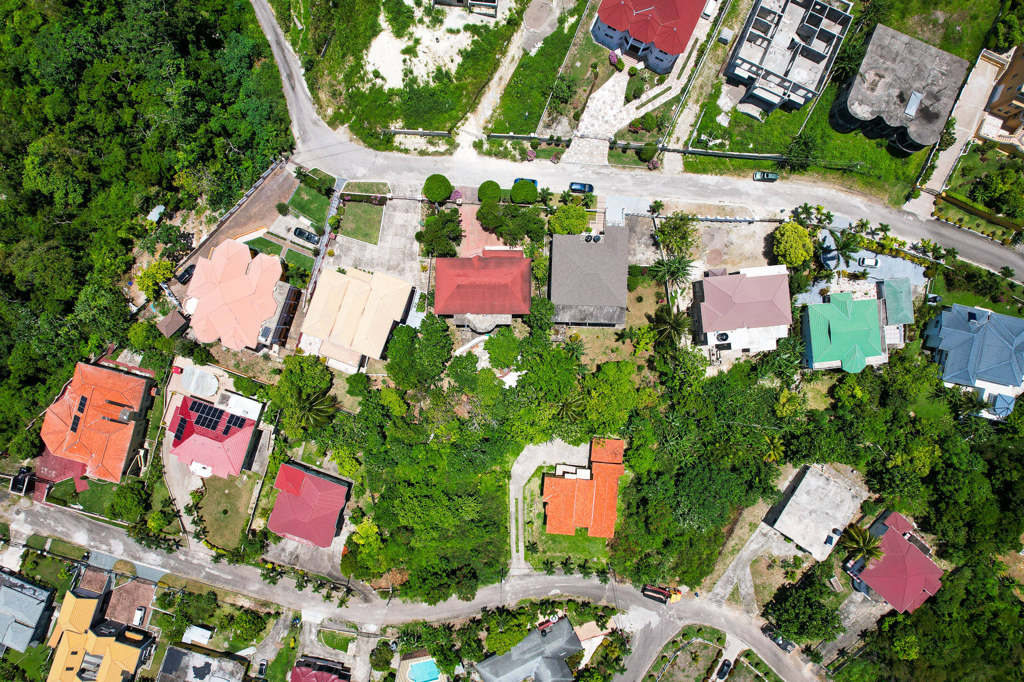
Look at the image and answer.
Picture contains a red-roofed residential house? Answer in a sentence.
Yes, a red-roofed residential house appears in the view.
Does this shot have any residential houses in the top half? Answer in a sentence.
Yes, you'll find a residential house in the top half.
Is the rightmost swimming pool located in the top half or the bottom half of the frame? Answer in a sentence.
The bottom half of the photo is where the rightmost swimming pool is.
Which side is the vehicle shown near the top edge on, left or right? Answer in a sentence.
It is on the right.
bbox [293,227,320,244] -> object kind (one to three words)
car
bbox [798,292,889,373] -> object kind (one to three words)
building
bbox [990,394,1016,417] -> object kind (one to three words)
gazebo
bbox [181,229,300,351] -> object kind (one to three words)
house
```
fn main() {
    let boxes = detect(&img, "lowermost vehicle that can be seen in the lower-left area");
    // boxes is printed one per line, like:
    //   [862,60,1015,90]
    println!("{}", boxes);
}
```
[257,656,271,680]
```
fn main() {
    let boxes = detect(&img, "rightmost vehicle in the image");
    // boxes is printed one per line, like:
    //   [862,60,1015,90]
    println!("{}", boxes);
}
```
[857,257,881,269]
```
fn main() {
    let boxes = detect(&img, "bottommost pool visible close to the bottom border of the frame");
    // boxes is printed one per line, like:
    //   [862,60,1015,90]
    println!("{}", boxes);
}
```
[402,659,441,682]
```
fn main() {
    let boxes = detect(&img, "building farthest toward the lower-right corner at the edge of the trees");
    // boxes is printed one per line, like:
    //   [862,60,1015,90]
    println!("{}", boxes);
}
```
[843,508,944,615]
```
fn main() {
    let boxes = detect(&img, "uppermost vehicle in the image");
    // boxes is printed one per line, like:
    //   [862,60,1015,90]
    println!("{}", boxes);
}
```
[698,0,718,24]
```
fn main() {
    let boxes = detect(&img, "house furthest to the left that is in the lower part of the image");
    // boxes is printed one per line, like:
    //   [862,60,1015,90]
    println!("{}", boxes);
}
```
[0,565,64,653]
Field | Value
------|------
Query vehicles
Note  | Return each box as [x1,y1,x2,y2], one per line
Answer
[857,257,881,269]
[641,580,684,607]
[761,620,792,656]
[131,603,149,629]
[752,170,779,183]
[569,182,594,195]
[257,656,271,680]
[175,263,196,287]
[293,227,320,244]
[13,468,29,491]
[714,656,733,682]
[698,0,718,24]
